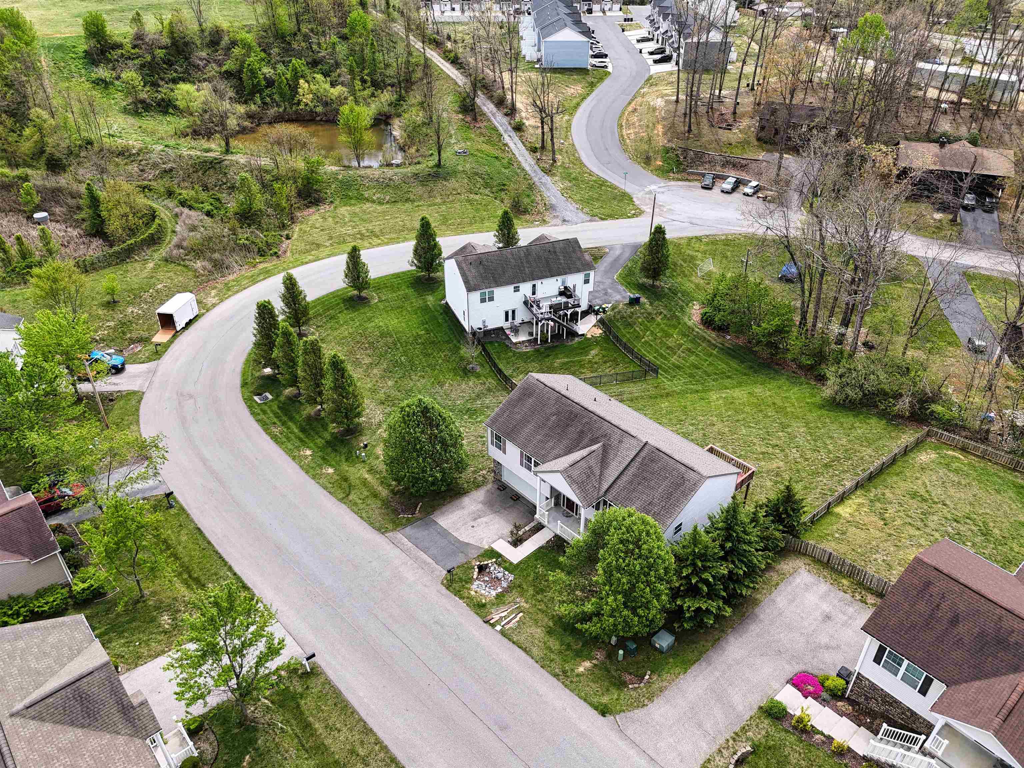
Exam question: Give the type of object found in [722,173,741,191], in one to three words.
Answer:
vehicle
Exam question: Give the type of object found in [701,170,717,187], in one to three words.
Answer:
vehicle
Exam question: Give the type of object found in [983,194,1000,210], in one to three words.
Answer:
car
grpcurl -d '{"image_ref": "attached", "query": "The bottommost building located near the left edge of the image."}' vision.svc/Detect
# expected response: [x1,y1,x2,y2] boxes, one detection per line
[0,613,236,768]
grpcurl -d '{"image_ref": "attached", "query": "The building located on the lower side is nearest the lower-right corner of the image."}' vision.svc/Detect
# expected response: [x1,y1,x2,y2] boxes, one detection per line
[846,535,1024,768]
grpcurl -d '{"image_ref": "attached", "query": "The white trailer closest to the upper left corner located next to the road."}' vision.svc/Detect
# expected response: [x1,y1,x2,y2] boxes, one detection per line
[150,293,196,340]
